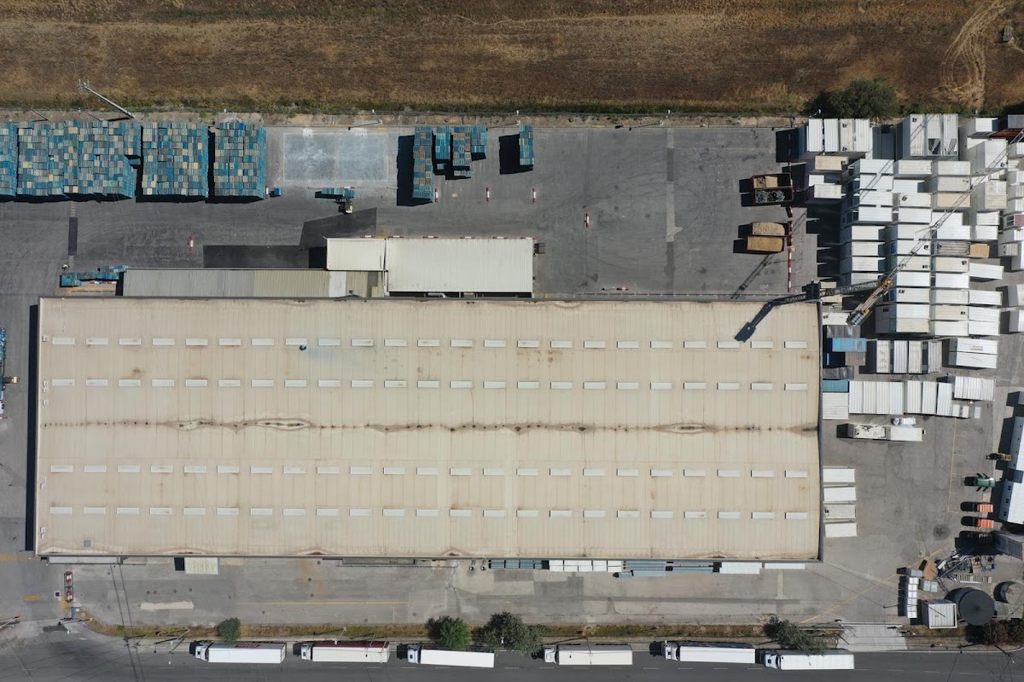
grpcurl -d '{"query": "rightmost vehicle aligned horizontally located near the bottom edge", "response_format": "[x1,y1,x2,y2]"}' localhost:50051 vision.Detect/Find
[756,648,854,670]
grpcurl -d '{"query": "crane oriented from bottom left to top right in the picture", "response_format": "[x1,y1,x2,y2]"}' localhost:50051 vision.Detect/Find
[809,126,1024,338]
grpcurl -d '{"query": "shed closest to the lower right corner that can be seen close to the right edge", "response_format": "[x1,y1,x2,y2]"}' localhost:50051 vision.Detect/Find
[994,532,1024,563]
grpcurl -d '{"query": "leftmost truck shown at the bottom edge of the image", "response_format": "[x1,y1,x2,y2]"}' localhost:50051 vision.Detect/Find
[196,642,286,664]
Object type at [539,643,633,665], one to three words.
truck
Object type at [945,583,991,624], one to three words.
storage tank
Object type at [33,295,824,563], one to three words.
warehouse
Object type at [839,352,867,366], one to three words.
building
